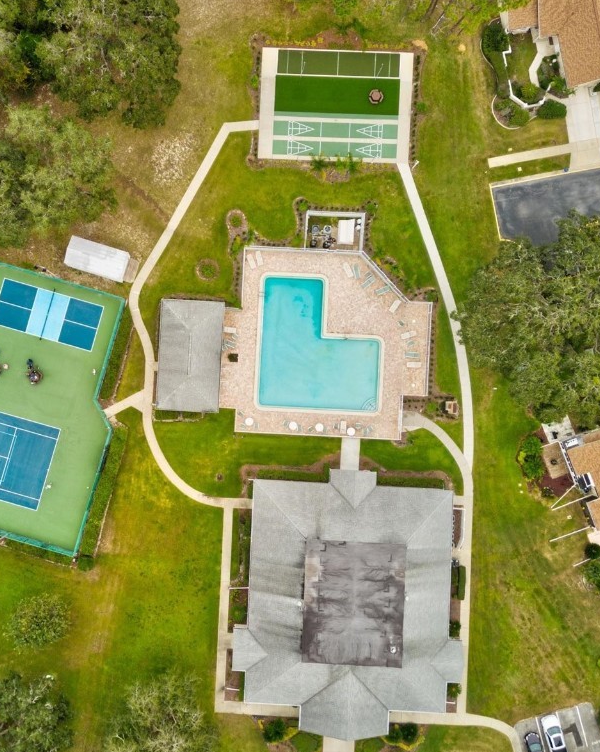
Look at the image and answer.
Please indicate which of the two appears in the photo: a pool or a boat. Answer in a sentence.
The one in the frame is a pool.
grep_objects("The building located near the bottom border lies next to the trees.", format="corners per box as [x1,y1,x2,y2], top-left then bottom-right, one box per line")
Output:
[231,468,465,741]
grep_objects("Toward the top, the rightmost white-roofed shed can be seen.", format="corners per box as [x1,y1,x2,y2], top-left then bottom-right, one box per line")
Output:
[338,220,354,245]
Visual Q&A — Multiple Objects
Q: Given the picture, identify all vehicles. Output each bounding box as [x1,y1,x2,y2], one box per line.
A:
[524,732,544,752]
[540,713,567,752]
